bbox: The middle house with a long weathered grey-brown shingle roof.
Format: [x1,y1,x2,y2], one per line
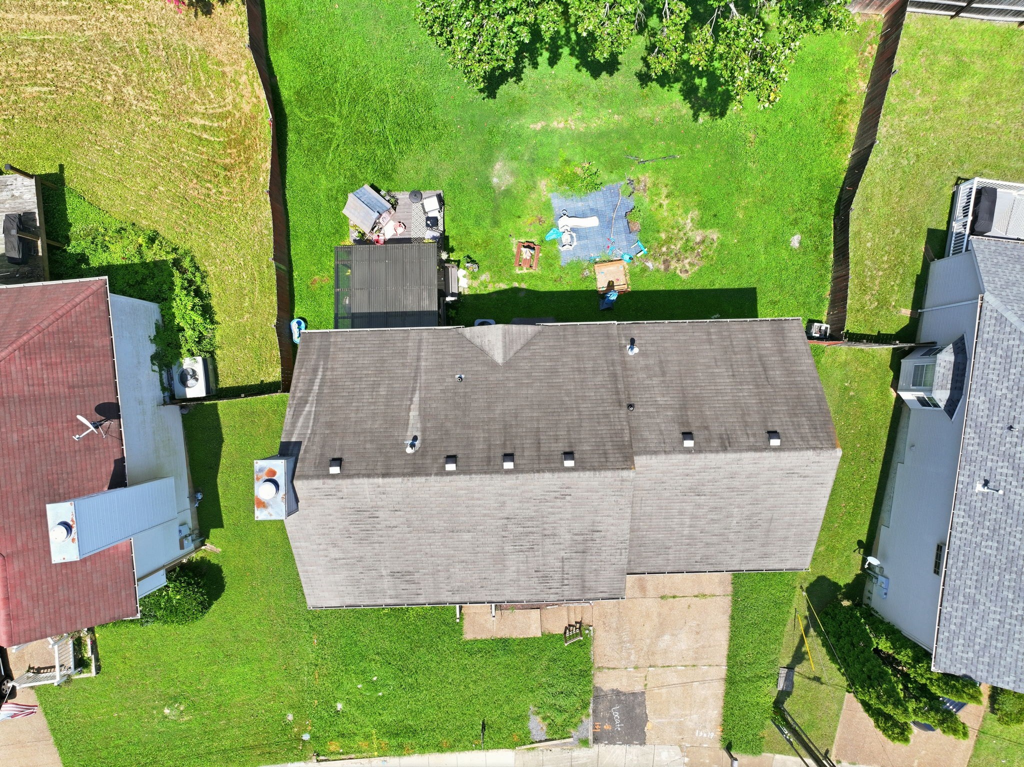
[252,314,843,612]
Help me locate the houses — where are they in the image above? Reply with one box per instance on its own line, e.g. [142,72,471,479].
[872,235,1024,694]
[0,274,208,649]
[252,314,843,612]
